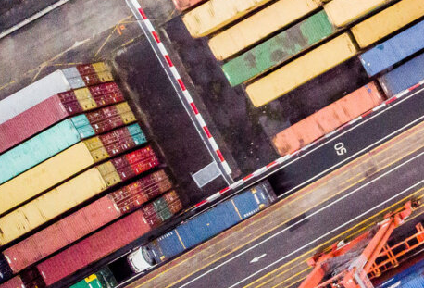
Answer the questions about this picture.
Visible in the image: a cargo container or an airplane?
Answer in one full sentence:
Looking from above, you can make out a cargo container.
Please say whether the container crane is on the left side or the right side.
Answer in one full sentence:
You can find the container crane on the right side of the picture.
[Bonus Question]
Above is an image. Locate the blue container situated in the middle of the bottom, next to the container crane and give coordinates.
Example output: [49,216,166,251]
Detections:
[146,178,277,267]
